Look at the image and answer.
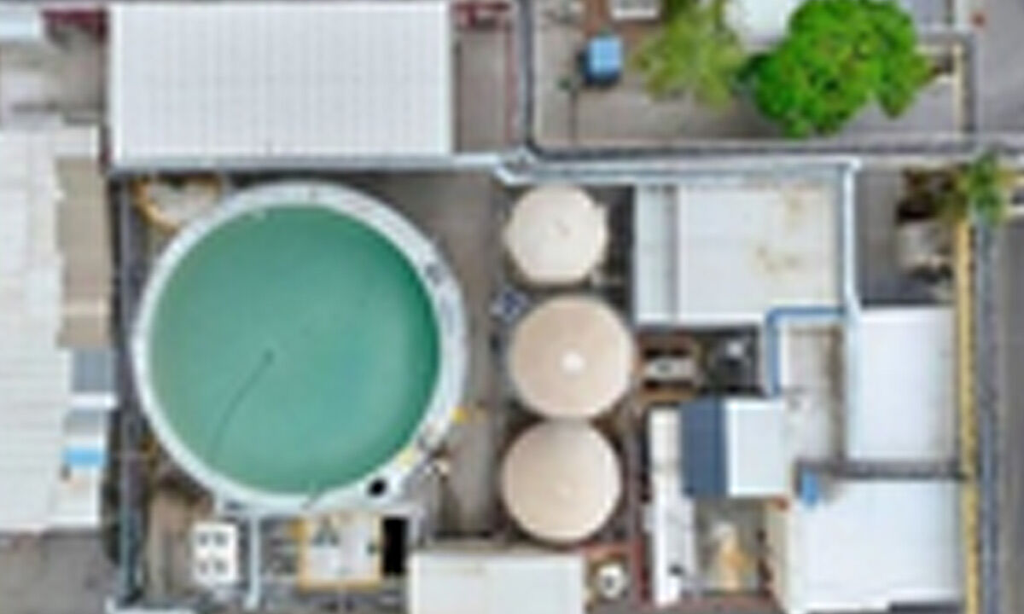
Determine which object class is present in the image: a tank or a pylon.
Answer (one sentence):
The one in the frame is a tank.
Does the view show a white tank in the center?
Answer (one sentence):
Yes, in the center there is a white tank.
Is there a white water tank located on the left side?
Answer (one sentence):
Yes, I can see a white water tank on the left side.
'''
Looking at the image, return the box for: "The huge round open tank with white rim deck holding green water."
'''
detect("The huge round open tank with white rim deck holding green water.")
[135,182,466,514]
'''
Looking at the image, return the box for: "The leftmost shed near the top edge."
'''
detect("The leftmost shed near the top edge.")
[0,10,58,47]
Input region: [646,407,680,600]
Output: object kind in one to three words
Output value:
building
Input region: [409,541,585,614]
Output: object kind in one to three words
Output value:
shed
